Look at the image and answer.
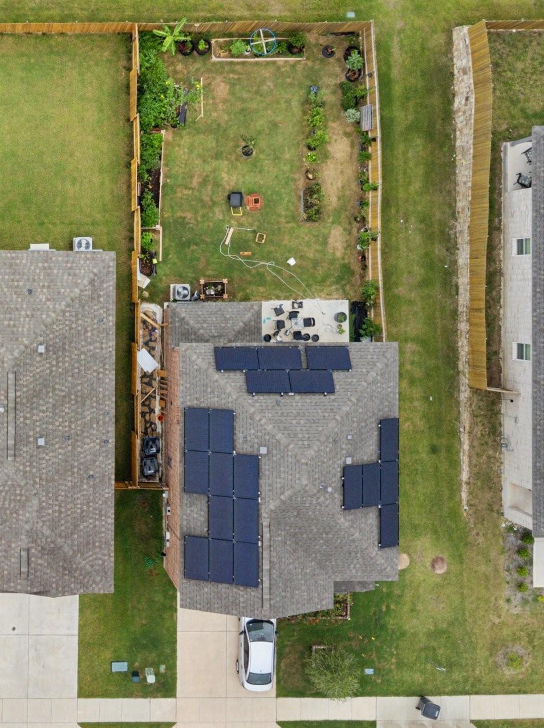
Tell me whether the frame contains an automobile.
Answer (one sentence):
Yes, there's an automobile down there.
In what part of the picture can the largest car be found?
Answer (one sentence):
The largest car is located in the bottom region of the scene.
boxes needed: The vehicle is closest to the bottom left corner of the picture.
[237,616,282,689]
